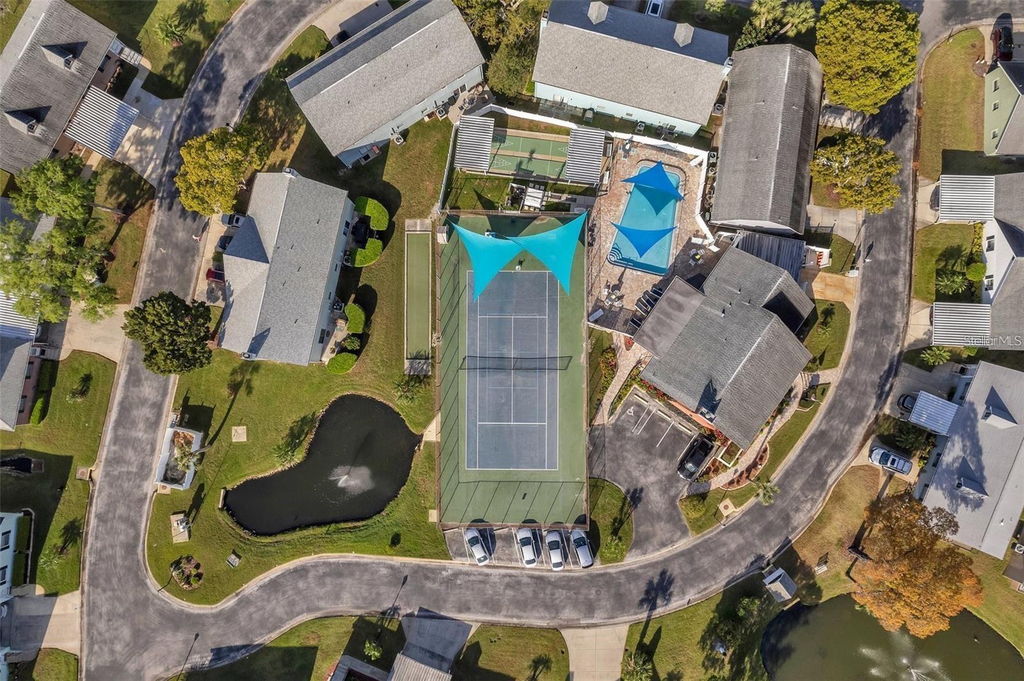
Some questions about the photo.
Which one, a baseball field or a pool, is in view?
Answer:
pool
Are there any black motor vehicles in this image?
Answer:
Yes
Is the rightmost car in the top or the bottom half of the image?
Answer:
top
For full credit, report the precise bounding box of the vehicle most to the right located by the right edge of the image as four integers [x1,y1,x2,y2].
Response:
[991,25,1016,62]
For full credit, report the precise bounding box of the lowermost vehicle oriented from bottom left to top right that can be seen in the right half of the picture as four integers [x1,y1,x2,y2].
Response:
[677,432,717,482]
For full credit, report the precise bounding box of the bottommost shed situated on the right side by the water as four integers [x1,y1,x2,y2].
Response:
[769,574,800,606]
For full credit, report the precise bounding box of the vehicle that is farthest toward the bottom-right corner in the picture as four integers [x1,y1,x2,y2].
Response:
[867,448,914,474]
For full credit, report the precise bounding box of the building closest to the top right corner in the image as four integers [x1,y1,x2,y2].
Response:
[979,61,1024,159]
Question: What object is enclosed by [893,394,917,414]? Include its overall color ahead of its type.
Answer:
black car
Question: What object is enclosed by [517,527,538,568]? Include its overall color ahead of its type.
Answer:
white car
